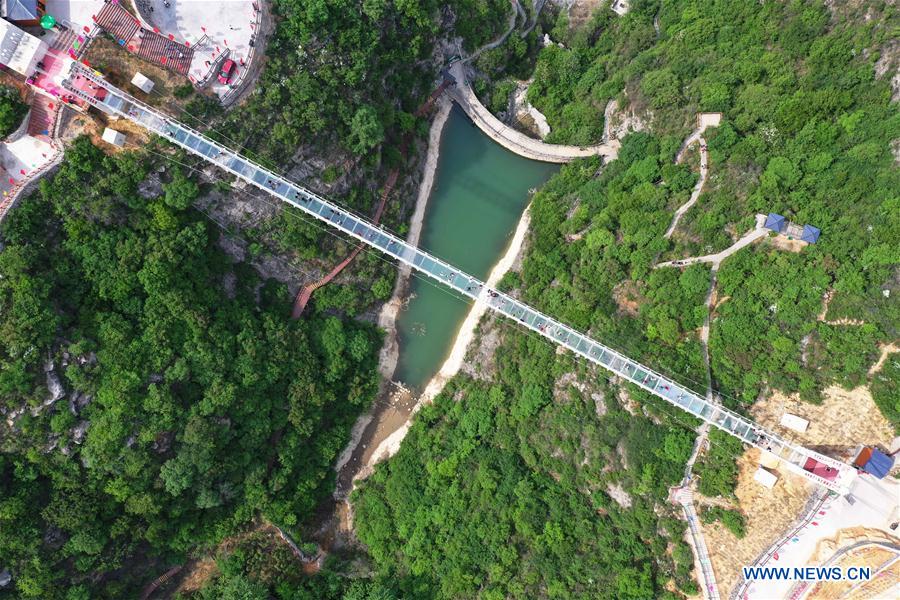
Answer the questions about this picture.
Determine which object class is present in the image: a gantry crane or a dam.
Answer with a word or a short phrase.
dam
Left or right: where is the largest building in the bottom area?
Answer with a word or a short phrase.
right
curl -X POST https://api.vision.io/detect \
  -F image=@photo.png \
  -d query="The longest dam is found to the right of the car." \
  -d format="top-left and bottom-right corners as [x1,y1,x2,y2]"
[445,62,610,167]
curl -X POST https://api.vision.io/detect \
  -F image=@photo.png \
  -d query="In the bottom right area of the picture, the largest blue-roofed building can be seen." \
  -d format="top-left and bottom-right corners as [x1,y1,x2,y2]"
[856,446,895,481]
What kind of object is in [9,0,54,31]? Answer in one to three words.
building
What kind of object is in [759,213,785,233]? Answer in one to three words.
building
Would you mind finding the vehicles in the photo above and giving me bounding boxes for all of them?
[218,59,236,86]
